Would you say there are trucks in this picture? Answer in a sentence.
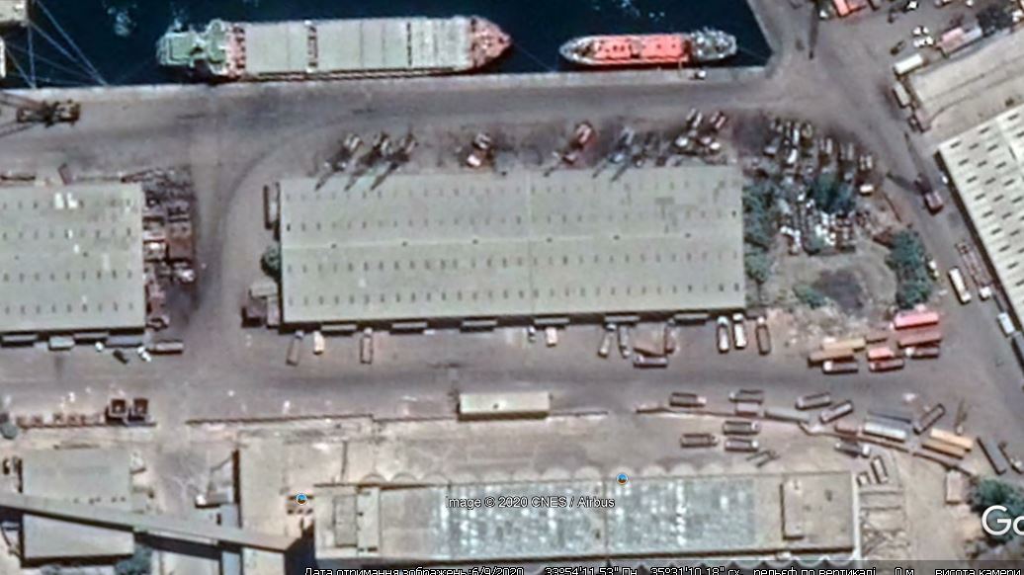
Yes, the photo shows a truck.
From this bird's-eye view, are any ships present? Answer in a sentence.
Yes, I can see a ship in this picture.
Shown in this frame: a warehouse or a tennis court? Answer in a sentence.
The one in the frame is a warehouse.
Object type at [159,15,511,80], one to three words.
ship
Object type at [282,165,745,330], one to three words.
warehouse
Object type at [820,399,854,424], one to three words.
truck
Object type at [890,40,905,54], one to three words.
vehicle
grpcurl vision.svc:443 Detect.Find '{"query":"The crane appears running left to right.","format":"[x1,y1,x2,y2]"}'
[0,99,79,123]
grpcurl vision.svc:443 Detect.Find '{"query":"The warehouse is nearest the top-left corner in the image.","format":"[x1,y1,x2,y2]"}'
[0,184,145,341]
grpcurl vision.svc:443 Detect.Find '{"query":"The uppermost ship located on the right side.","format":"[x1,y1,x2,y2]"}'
[560,30,737,66]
